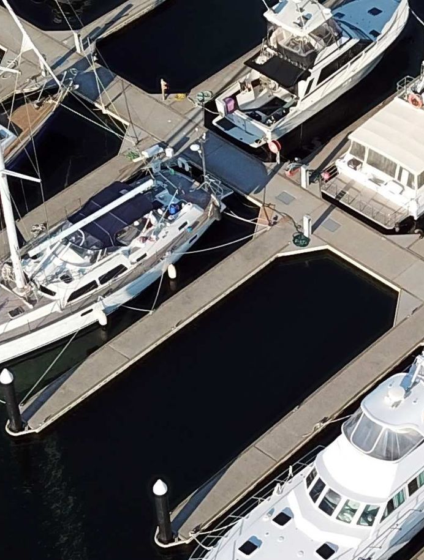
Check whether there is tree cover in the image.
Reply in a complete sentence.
No, the picture contains no tree cover.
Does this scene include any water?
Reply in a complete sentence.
Yes, some water is visible.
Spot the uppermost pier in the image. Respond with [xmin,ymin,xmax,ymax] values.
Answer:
[43,0,172,62]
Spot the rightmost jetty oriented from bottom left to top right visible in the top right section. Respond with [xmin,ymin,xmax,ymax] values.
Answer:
[257,68,424,194]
